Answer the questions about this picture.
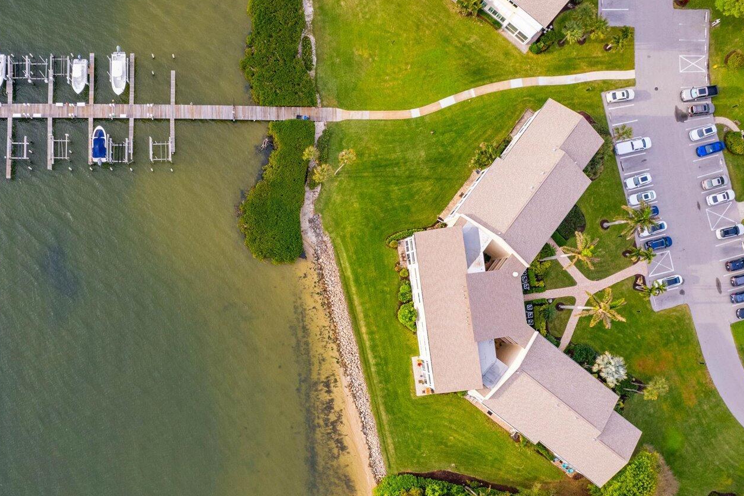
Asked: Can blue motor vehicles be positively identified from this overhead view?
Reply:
Yes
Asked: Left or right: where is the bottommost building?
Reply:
right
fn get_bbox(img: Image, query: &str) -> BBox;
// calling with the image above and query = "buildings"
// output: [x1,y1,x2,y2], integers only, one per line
[477,0,567,55]
[404,99,641,488]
